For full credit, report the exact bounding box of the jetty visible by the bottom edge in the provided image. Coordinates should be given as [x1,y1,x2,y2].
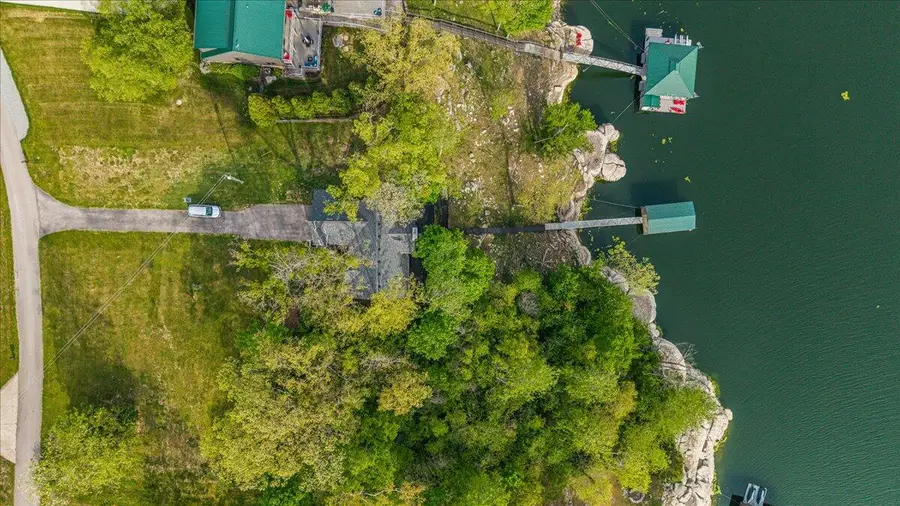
[731,483,780,506]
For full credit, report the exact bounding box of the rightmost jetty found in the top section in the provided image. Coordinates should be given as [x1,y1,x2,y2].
[635,29,702,114]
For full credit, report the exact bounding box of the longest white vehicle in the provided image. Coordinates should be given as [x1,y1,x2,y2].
[186,203,220,219]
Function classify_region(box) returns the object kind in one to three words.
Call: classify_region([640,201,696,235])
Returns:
building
